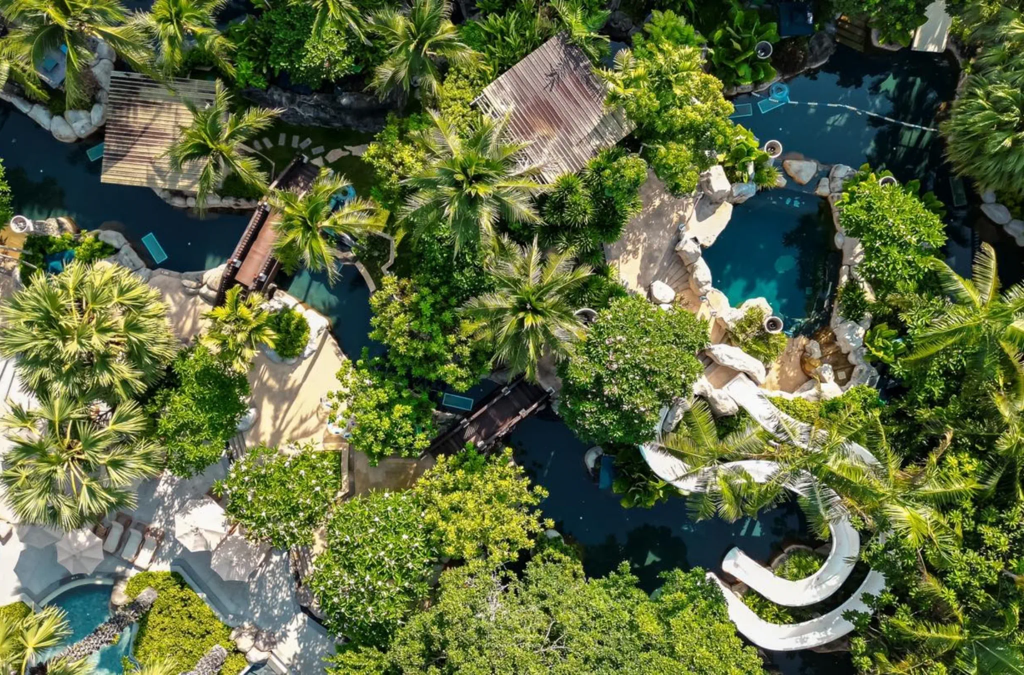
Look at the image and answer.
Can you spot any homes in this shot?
No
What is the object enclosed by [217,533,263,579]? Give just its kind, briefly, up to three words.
umbrella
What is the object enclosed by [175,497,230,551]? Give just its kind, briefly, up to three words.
umbrella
